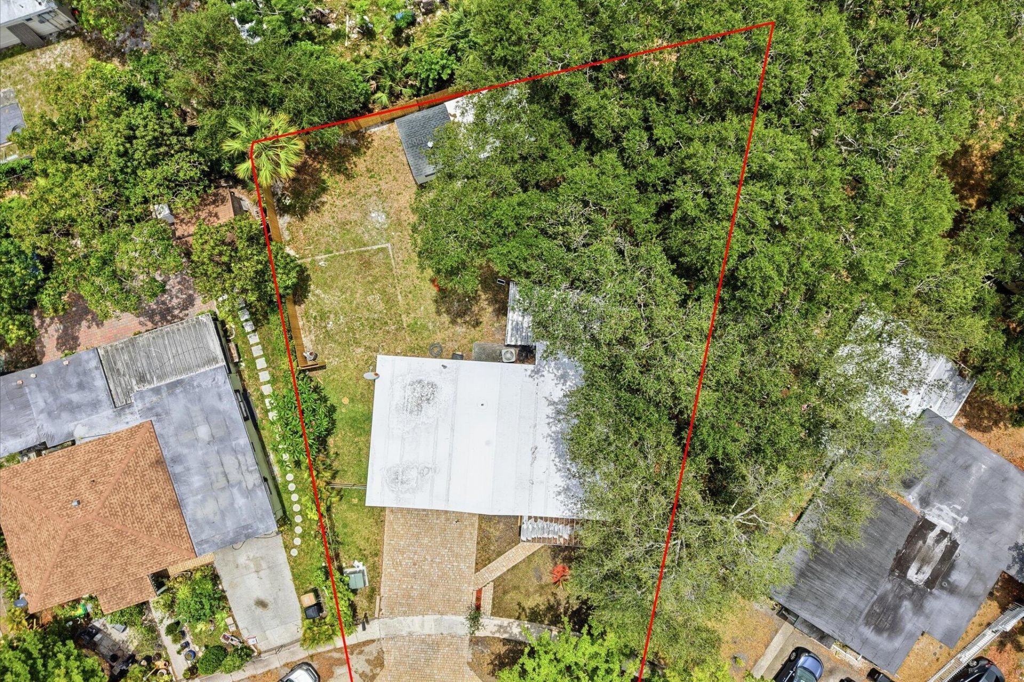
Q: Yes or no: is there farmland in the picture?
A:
No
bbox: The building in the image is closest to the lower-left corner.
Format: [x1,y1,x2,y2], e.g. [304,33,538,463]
[0,312,288,615]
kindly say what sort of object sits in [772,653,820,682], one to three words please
car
